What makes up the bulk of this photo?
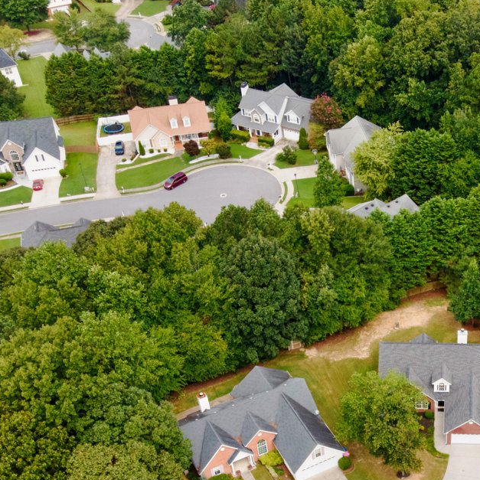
trees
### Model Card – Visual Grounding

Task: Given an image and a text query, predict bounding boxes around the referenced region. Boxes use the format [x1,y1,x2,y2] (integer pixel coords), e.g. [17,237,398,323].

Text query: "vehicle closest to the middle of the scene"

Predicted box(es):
[162,166,190,188]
